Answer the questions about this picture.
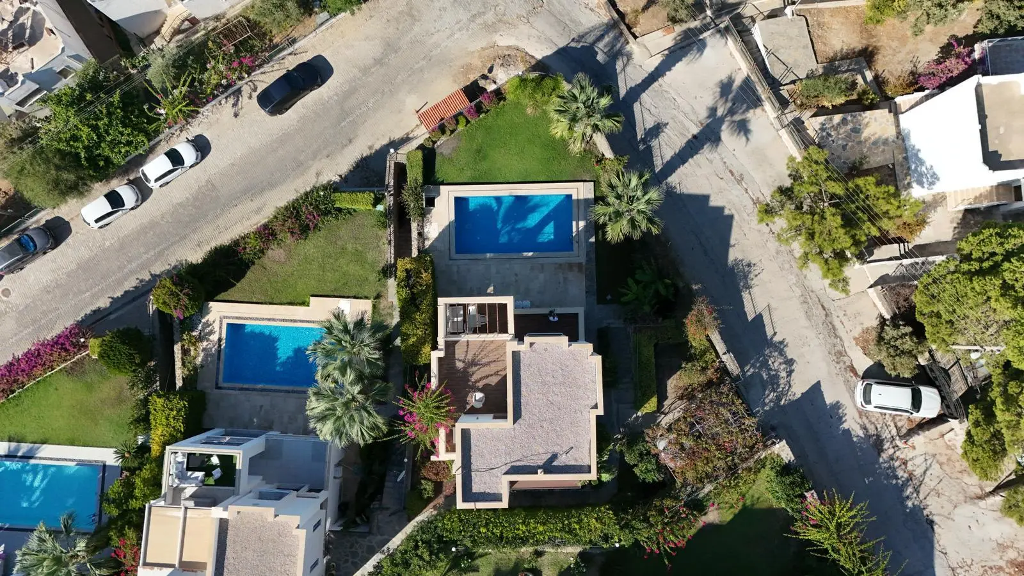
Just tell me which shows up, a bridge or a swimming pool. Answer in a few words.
swimming pool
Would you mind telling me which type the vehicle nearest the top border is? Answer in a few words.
car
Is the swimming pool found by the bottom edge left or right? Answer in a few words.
left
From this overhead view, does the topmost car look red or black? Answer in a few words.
black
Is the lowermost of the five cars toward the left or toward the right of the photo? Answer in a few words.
right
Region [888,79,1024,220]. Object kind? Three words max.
house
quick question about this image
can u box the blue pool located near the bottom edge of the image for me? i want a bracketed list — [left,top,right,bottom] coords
[0,440,126,553]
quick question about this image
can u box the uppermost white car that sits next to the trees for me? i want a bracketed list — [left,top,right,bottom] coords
[134,139,206,192]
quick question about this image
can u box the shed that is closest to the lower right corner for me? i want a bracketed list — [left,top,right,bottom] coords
[926,345,969,399]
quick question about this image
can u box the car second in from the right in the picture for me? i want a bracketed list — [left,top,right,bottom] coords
[250,60,327,120]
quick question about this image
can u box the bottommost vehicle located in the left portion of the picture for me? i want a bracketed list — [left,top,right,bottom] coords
[0,224,62,282]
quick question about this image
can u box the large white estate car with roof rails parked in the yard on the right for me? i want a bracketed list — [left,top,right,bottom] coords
[856,378,938,420]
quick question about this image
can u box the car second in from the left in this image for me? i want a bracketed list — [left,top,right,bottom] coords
[74,181,147,232]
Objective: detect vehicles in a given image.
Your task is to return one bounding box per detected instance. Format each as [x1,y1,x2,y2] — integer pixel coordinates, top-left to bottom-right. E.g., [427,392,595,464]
[856,378,938,420]
[0,224,62,282]
[250,60,327,120]
[134,139,206,192]
[74,181,147,232]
